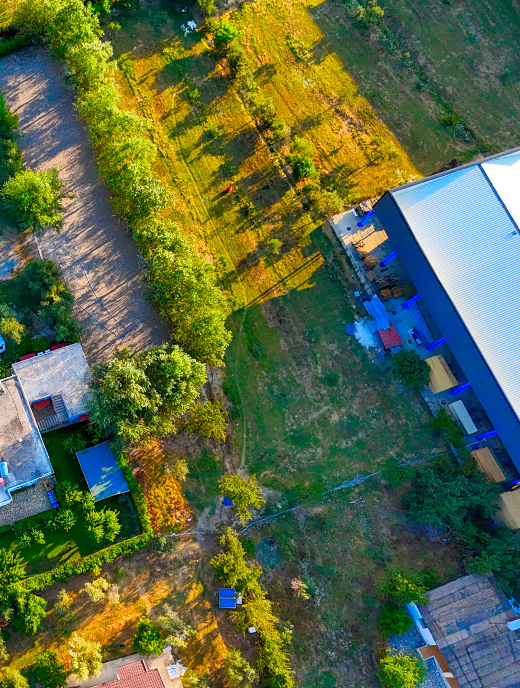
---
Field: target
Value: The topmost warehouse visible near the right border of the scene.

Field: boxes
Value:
[353,145,520,486]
